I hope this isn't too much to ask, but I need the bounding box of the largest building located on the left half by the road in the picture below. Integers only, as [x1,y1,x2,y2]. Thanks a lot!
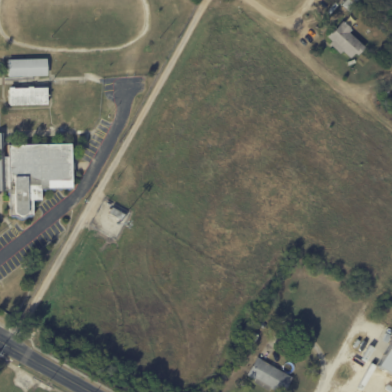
[4,144,74,219]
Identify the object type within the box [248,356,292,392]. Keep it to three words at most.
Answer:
house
